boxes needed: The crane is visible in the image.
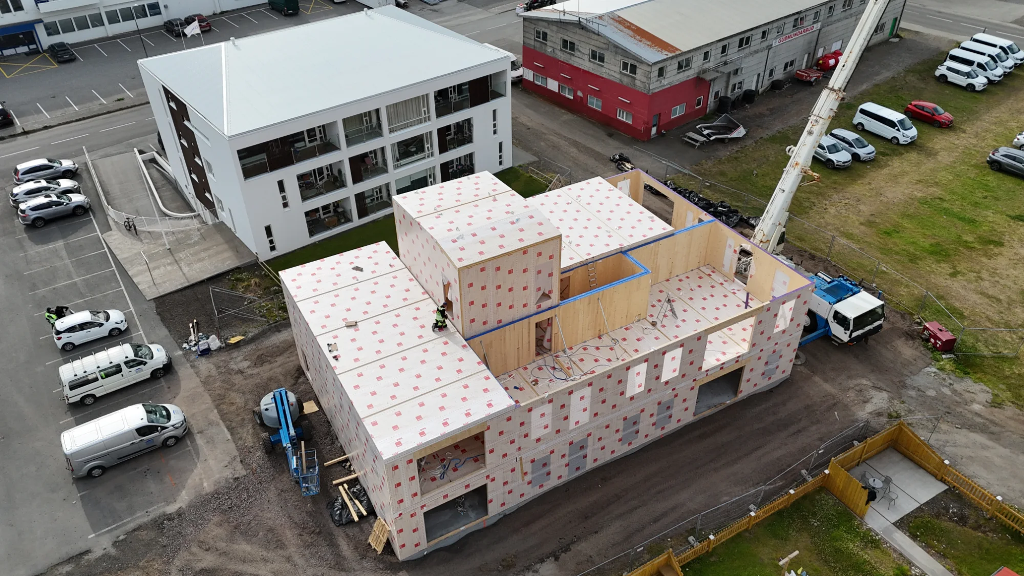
[717,0,891,363]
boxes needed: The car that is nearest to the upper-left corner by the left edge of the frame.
[47,39,76,62]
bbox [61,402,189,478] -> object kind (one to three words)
van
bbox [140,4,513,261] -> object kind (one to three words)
house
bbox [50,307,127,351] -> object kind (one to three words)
car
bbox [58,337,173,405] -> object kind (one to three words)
van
